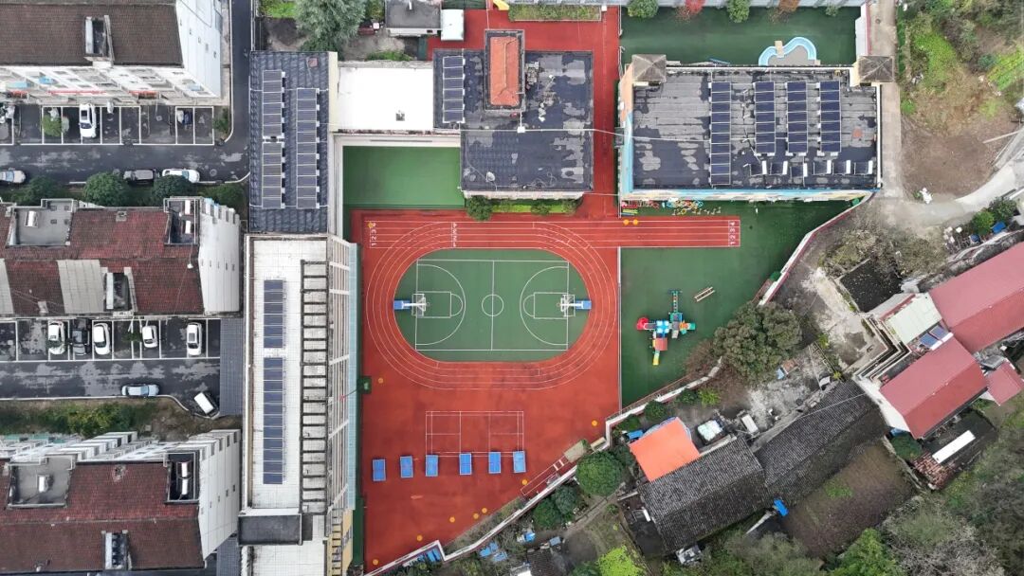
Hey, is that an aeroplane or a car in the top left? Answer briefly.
car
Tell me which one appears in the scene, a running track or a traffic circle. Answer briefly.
running track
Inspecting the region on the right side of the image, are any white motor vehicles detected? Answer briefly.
No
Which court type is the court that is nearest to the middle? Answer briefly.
basketball court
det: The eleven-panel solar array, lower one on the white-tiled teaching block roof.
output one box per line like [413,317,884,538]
[264,358,288,484]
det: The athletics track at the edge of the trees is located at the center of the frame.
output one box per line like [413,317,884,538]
[365,217,741,390]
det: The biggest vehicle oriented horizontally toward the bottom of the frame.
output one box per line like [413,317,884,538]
[121,382,160,399]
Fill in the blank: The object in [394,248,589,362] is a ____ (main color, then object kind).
green basketball court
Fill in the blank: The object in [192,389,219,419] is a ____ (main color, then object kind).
white vehicle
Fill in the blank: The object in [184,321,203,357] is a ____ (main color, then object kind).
white car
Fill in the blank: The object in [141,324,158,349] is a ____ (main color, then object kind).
white car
